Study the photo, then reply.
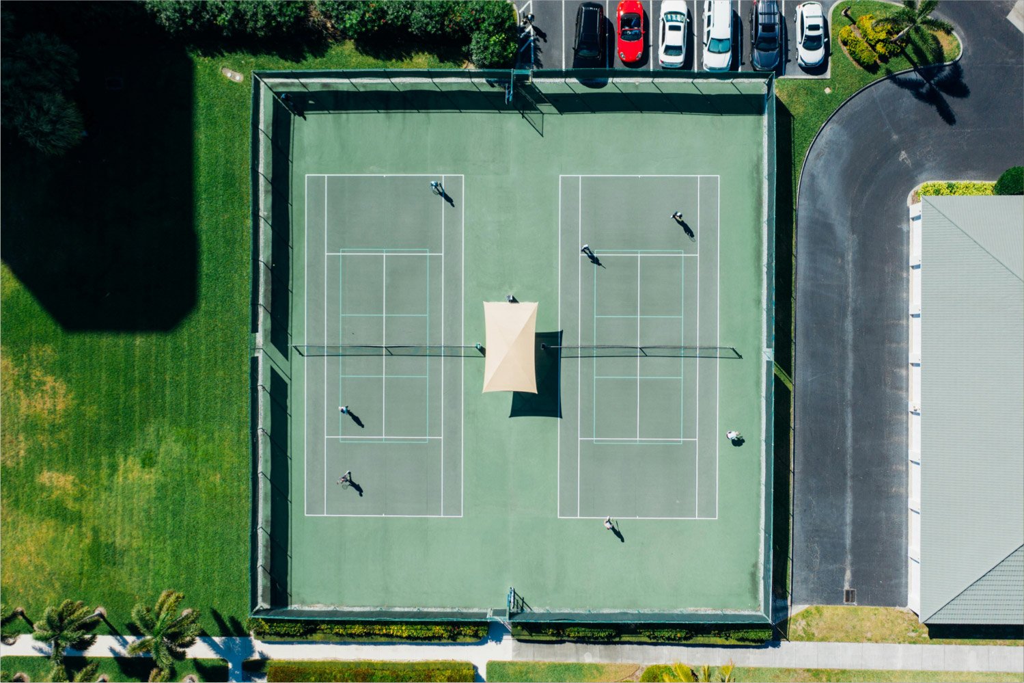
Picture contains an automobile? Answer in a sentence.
Yes, this view includes an automobile.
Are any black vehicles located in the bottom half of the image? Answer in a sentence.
No, there is no black vehicle in the bottom half of the image.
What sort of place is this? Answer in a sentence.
It's a sports ground.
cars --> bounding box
[614,0,647,61]
[748,0,783,68]
[570,3,605,74]
[658,0,691,66]
[700,0,736,68]
[794,0,829,67]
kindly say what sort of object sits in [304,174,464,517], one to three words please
tennis court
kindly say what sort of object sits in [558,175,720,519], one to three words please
tennis court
